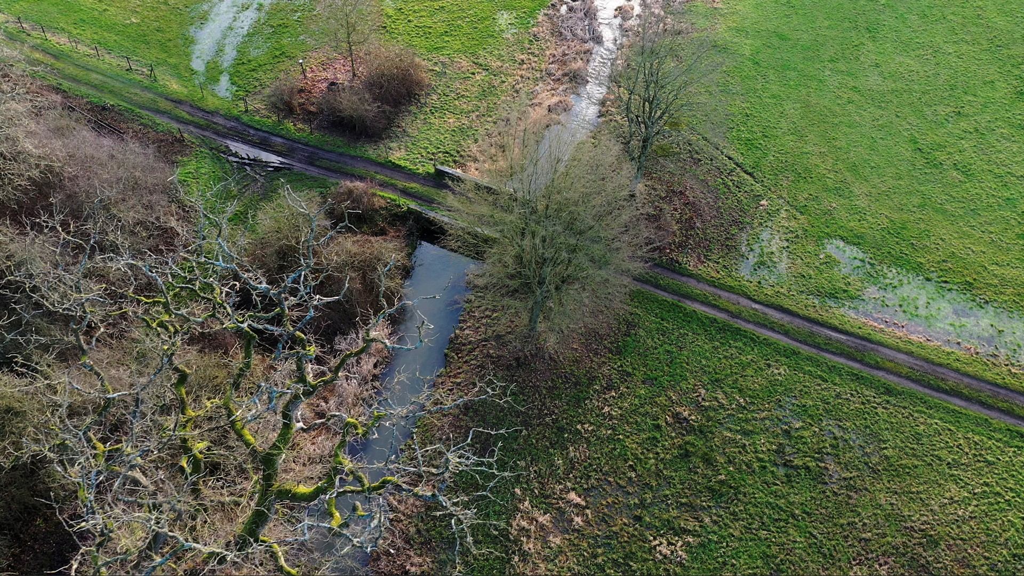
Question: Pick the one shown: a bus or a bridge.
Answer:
bridge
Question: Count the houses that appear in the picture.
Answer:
none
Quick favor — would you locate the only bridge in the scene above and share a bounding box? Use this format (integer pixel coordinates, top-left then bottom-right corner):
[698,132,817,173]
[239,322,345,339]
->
[407,165,548,259]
